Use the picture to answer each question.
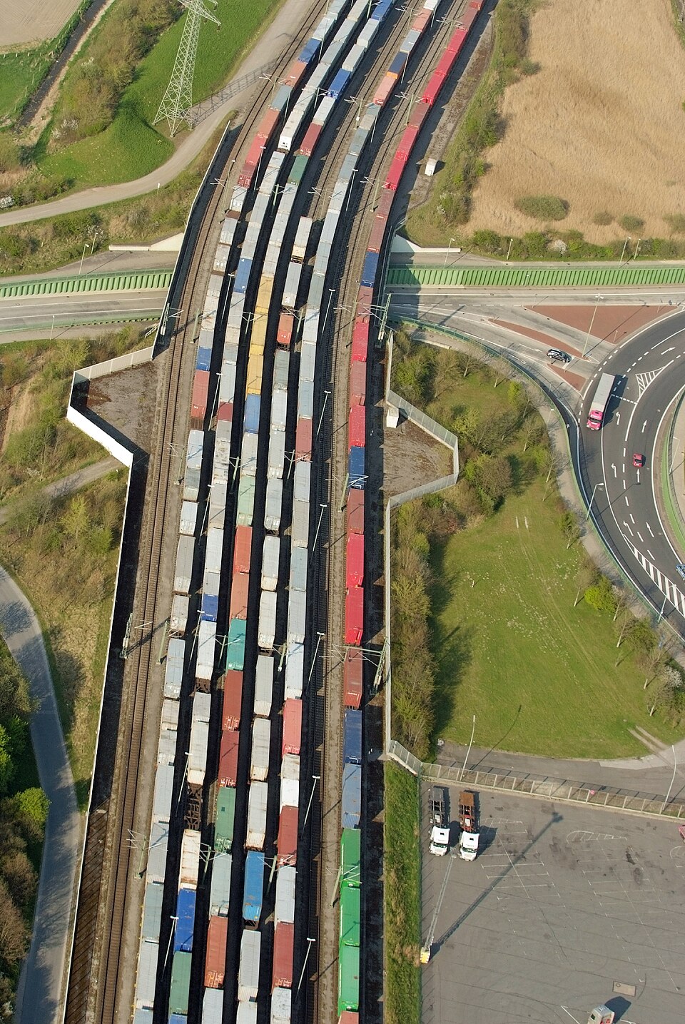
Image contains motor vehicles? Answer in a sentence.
Yes, you can see a motor vehicle in this photo.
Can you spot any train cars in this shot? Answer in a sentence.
Yes, there is a train car in the image.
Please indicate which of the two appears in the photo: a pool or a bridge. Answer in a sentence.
The one in the frame is a bridge.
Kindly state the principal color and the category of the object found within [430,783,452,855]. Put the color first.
white truck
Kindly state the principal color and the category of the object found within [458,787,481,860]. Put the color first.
white truck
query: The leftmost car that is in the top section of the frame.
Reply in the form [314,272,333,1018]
[547,348,571,362]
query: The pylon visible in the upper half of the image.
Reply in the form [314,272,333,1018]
[157,0,221,139]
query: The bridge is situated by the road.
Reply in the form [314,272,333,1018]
[163,235,395,335]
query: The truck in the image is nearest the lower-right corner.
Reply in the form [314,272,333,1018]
[588,1003,624,1024]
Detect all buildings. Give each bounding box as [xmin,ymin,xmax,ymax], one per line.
[386,407,400,428]
[424,159,439,176]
